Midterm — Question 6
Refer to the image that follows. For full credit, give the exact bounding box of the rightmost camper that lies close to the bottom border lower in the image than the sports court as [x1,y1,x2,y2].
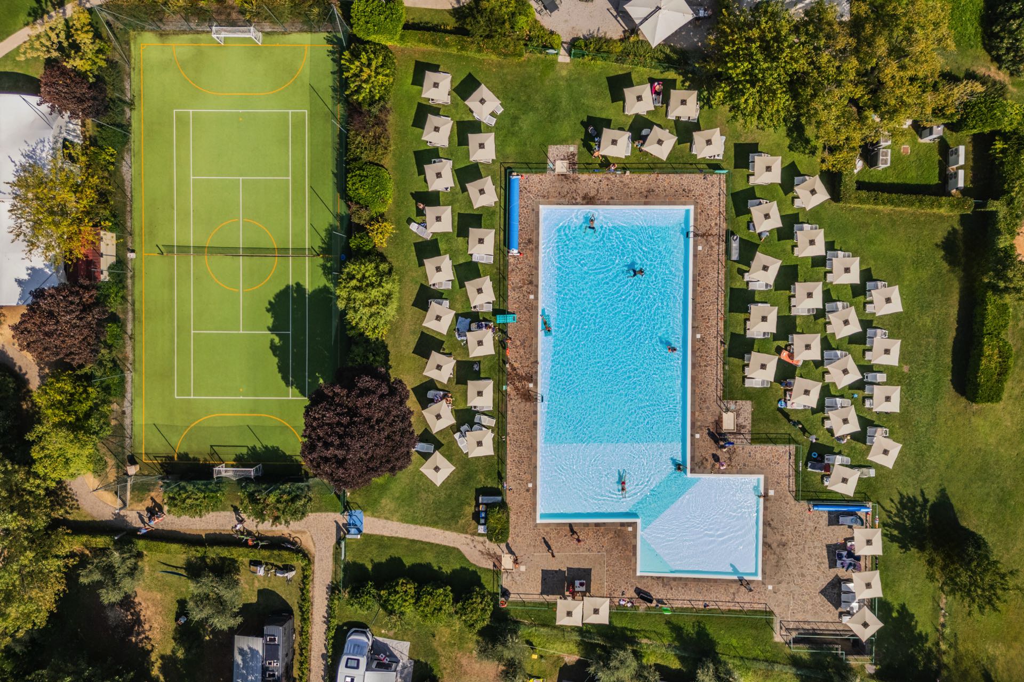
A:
[337,618,377,682]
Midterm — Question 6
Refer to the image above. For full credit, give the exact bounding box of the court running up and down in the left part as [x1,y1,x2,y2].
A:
[131,31,350,477]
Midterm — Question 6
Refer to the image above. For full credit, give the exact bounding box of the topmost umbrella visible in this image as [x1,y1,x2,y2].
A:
[623,0,695,48]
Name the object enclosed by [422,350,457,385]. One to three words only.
umbrella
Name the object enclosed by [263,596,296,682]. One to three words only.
camper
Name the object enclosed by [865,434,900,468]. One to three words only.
umbrella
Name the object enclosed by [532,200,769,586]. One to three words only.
swimming pool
